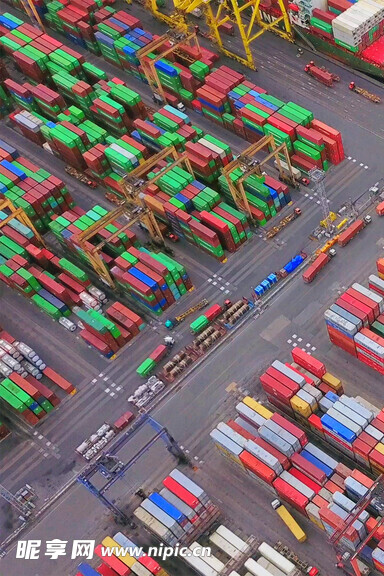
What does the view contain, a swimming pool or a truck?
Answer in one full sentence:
The image shows a truck.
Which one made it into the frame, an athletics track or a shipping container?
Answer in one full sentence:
I can see a shipping container in this picture.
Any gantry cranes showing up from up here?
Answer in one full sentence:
Yes, the picture does show a gantry crane.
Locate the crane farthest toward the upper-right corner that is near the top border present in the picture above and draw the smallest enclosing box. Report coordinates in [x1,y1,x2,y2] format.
[203,0,297,71]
